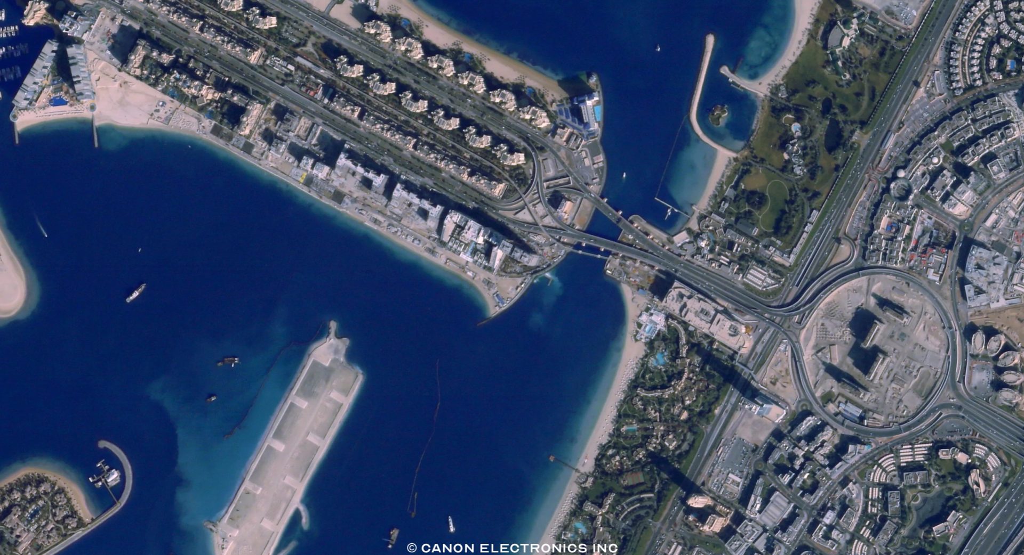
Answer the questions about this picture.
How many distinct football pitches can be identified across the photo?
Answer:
0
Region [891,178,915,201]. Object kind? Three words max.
building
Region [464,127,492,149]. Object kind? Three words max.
building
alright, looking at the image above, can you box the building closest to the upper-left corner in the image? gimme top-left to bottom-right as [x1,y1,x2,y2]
[23,0,54,28]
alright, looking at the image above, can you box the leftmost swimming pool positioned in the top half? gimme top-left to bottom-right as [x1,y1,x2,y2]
[48,95,69,107]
